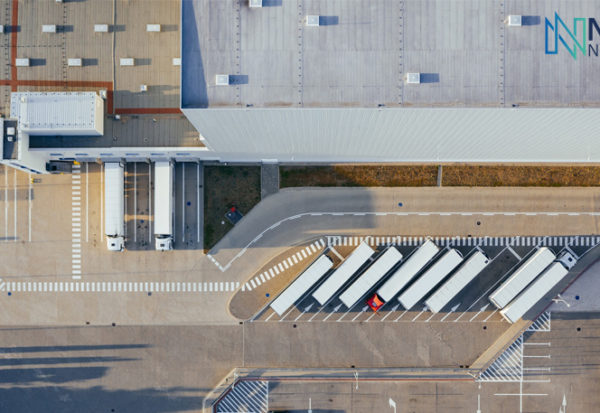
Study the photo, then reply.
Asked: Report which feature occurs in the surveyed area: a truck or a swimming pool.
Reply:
truck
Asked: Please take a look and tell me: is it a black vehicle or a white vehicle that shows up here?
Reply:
white vehicle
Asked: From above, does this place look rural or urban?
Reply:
urban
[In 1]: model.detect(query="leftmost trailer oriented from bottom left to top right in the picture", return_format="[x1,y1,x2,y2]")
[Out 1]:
[270,254,336,316]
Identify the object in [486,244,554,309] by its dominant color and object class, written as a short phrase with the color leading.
white trailer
